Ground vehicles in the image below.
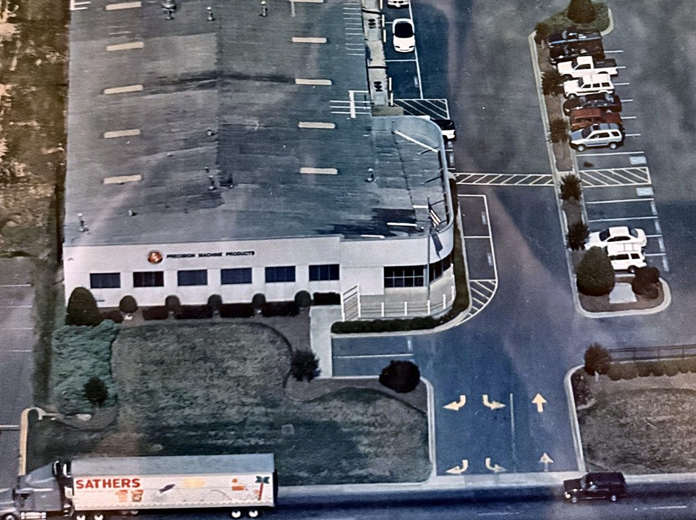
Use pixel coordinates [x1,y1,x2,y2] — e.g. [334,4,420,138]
[555,58,617,82]
[562,466,626,502]
[413,115,455,139]
[561,94,621,114]
[567,108,622,133]
[568,124,623,151]
[585,228,647,250]
[390,21,413,49]
[605,245,646,271]
[548,40,604,66]
[562,73,615,99]
[0,457,104,518]
[546,27,601,49]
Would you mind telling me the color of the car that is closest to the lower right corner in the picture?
black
